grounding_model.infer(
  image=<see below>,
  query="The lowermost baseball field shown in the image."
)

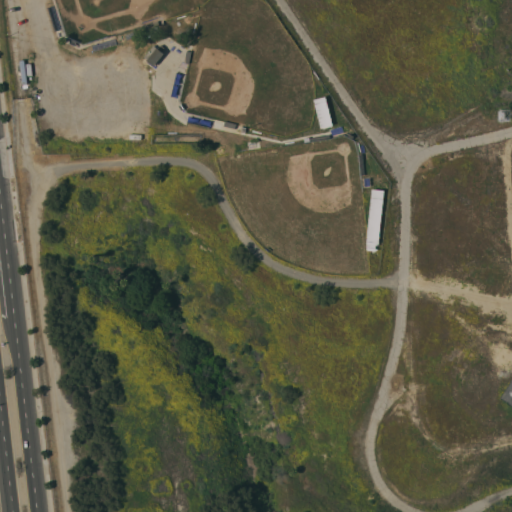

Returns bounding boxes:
[217,134,370,274]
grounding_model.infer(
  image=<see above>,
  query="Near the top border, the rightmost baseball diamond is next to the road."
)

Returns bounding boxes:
[184,0,315,139]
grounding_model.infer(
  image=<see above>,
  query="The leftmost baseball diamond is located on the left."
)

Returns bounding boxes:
[56,0,203,46]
